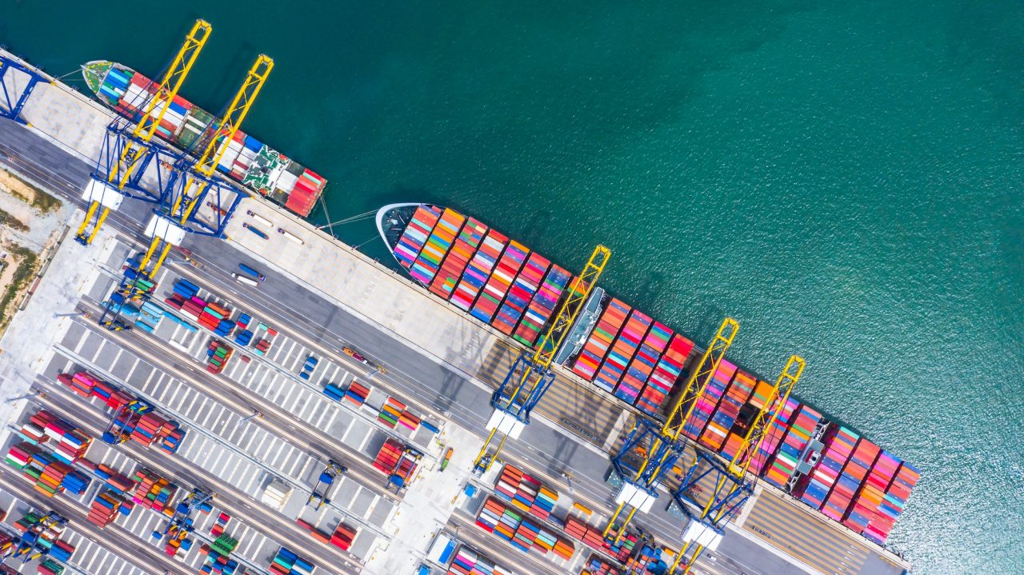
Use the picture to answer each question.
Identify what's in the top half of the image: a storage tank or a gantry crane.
gantry crane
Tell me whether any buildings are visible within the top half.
No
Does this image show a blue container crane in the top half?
Yes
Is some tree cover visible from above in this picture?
No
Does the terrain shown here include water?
Yes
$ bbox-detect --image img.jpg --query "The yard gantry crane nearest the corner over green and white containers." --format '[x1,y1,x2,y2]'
[14,508,72,566]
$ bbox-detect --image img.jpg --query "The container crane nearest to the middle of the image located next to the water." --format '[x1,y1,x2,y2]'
[471,247,611,475]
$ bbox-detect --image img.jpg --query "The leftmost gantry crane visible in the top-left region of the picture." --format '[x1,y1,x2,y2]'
[0,54,55,127]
